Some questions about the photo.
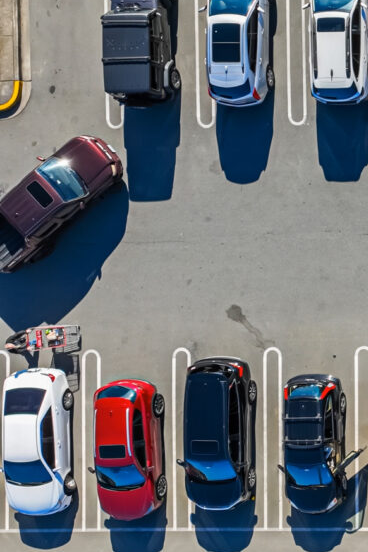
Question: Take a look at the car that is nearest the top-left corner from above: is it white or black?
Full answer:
The car that is nearest the top-left corner looks black in the image.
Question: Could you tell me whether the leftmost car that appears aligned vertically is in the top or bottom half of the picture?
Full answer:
Seen from above, the leftmost car that appears aligned vertically lies in the bottom half of the view.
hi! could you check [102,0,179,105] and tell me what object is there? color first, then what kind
black car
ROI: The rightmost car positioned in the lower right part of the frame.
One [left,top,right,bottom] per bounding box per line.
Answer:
[278,372,368,516]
